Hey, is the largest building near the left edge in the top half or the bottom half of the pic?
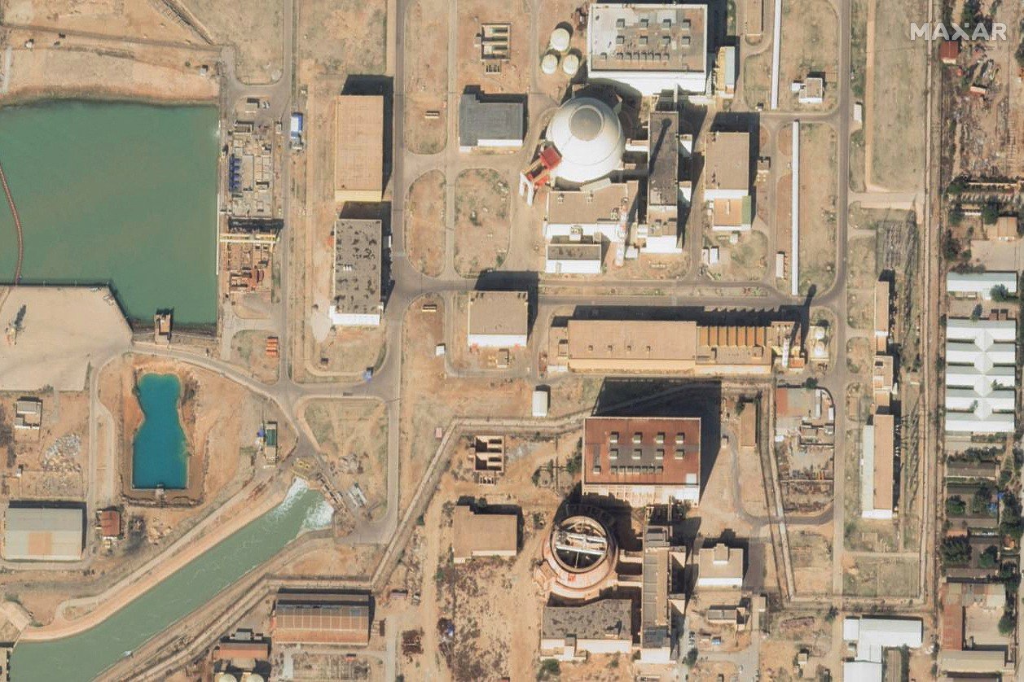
bottom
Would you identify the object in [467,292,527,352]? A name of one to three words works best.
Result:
building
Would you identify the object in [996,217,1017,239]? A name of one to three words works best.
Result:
house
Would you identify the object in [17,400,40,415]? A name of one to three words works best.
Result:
building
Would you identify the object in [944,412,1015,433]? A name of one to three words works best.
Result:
shed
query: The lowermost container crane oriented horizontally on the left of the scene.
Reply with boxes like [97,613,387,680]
[219,233,278,258]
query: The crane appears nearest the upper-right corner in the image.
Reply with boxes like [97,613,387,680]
[519,146,560,206]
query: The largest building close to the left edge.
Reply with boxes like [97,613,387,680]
[4,508,83,560]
